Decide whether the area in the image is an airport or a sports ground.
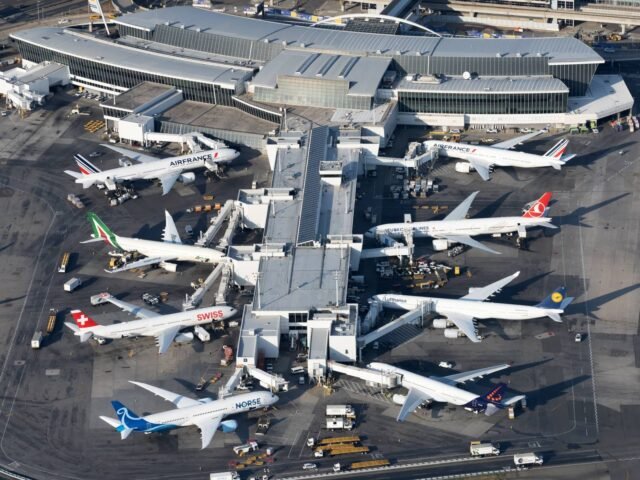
airport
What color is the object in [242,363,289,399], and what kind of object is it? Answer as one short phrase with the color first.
white jet bridge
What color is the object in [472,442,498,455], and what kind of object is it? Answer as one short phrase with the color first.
white vehicle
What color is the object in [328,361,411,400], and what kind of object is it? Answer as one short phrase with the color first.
white jet bridge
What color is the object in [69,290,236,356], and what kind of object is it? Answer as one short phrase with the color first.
white airplane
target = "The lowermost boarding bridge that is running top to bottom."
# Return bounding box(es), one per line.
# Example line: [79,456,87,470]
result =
[215,263,236,307]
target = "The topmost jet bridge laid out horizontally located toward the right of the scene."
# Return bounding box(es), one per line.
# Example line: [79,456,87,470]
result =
[368,146,447,180]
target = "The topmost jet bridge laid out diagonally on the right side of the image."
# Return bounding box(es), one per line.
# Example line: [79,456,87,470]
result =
[403,141,429,162]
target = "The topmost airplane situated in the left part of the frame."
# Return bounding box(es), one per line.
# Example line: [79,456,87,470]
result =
[67,144,238,195]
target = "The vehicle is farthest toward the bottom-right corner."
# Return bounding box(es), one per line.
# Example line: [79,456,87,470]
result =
[514,453,541,466]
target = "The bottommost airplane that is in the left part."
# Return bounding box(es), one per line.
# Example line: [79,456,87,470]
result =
[106,379,279,448]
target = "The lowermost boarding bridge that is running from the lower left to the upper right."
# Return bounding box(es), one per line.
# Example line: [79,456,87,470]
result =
[218,362,248,401]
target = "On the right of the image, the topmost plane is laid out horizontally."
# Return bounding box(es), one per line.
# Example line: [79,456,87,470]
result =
[428,129,574,179]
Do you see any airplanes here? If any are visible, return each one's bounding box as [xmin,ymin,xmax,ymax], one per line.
[81,208,228,272]
[365,358,519,422]
[67,144,238,195]
[106,379,279,448]
[428,129,574,179]
[69,290,236,356]
[374,266,575,339]
[366,190,555,254]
